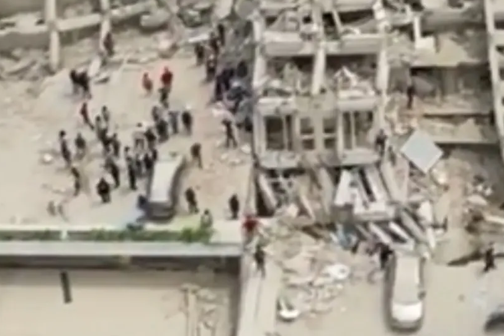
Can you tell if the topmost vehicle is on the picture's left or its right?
left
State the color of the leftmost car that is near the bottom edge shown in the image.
white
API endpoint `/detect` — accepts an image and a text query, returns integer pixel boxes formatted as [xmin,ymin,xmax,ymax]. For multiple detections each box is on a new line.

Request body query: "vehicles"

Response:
[142,148,184,215]
[487,304,504,326]
[385,251,427,331]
